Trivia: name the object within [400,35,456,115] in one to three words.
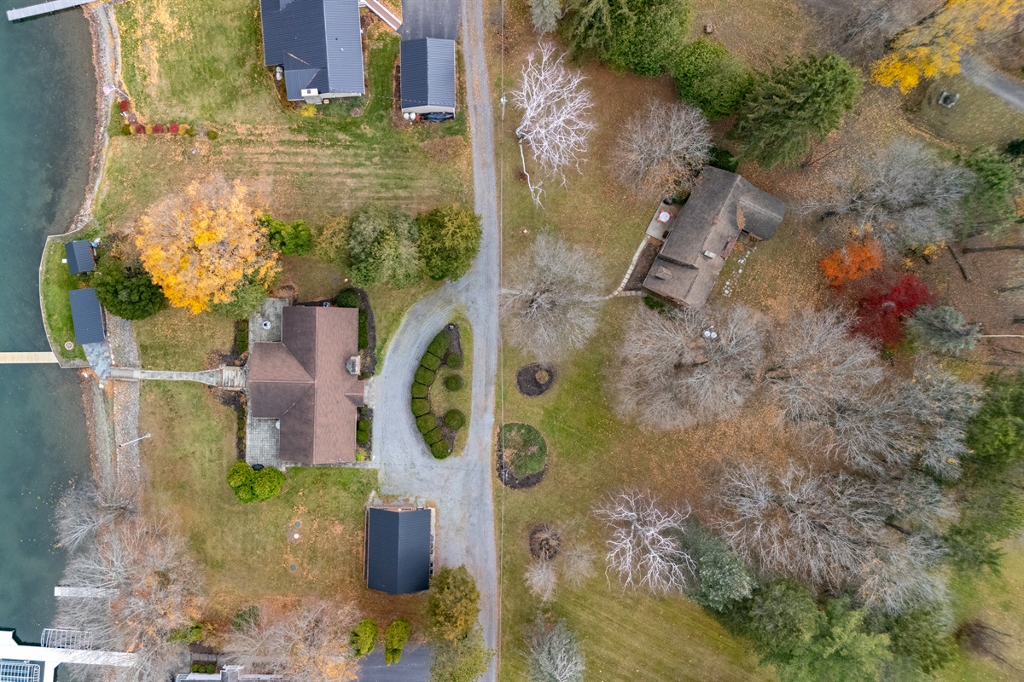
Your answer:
building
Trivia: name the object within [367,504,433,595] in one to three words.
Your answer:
building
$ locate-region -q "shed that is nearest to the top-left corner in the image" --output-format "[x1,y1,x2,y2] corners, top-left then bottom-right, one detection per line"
[65,240,97,274]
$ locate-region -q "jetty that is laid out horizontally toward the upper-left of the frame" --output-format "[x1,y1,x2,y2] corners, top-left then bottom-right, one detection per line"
[4,0,100,23]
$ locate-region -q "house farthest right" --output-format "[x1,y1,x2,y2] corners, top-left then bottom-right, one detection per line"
[642,165,786,308]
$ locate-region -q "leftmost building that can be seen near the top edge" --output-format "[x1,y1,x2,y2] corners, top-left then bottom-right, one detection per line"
[259,0,367,107]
